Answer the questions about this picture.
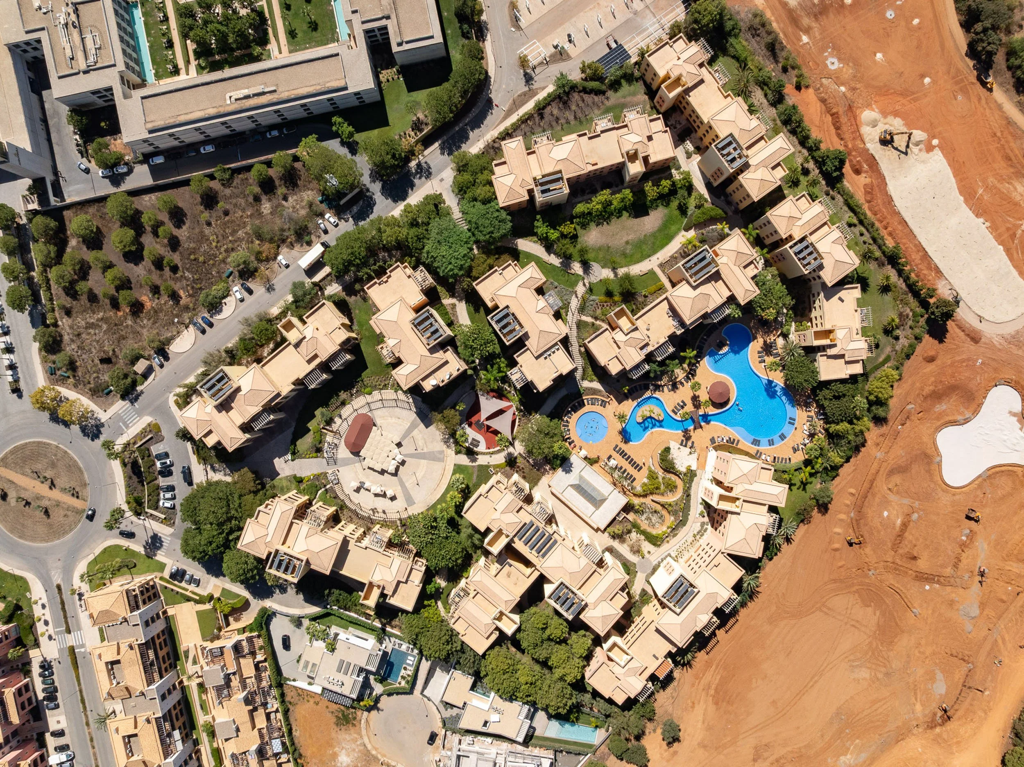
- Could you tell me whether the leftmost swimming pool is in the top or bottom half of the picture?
top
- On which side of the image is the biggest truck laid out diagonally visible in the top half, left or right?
left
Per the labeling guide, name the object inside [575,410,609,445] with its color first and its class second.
blue swimming pool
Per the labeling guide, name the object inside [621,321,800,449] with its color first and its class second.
blue swimming pool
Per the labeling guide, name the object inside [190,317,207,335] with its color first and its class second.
gray car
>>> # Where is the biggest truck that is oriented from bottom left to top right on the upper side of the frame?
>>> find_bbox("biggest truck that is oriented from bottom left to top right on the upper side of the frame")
[295,241,329,273]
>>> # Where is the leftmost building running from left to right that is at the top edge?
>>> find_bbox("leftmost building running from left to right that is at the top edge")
[0,0,446,205]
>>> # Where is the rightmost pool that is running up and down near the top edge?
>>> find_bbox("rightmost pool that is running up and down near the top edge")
[331,0,351,42]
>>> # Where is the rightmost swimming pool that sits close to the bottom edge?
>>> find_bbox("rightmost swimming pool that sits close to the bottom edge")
[541,717,600,745]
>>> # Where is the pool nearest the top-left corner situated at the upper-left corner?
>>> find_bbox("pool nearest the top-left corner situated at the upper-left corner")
[127,0,156,86]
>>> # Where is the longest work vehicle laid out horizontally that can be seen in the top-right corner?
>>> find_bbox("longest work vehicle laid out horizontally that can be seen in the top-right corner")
[879,129,909,142]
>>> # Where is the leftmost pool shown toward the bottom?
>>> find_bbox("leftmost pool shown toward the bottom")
[381,647,417,684]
